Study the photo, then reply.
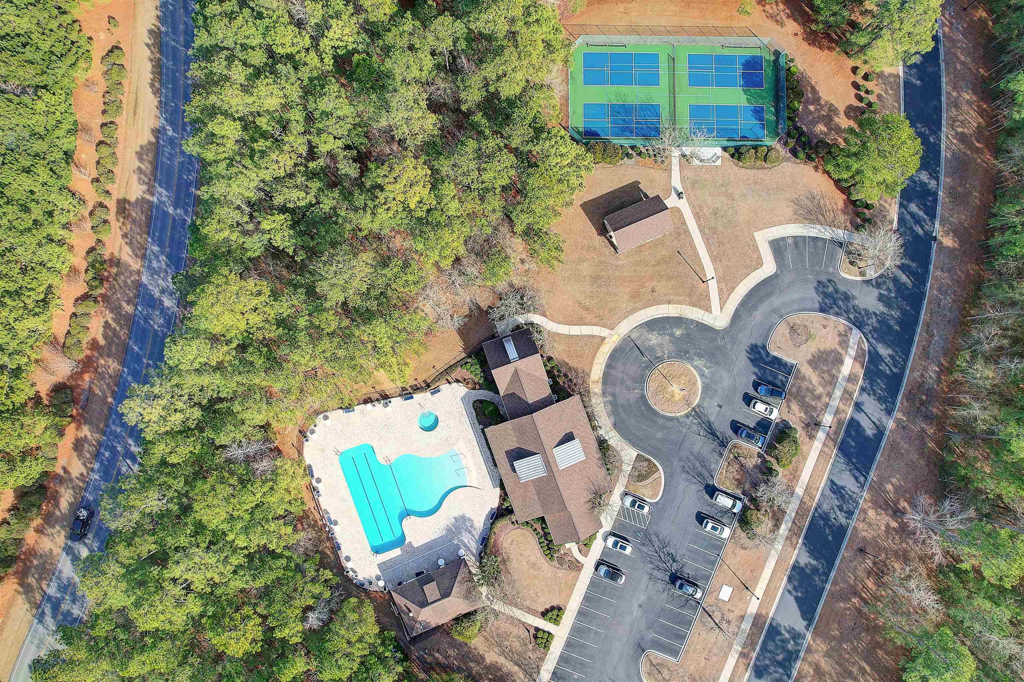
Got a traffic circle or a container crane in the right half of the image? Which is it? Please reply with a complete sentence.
The one visible in the right half of the image is a traffic circle.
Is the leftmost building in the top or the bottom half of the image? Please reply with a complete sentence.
The leftmost building is in the bottom half of the image.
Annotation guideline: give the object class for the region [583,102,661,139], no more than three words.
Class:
sports court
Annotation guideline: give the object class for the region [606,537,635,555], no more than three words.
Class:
car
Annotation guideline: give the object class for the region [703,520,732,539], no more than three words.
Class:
car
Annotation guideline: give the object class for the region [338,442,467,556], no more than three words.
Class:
swimming pool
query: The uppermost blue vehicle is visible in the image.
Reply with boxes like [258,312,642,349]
[759,385,788,402]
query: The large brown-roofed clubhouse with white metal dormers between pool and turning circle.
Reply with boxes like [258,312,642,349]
[482,326,614,551]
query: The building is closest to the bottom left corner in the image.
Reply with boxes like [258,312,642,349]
[389,560,486,638]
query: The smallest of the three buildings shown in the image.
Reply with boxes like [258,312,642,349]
[604,194,673,254]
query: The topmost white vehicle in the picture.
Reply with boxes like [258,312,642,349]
[751,400,780,418]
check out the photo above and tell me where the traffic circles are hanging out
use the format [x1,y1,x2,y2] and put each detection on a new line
[645,360,701,416]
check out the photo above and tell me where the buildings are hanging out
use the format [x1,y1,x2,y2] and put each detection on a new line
[482,326,614,551]
[389,560,486,638]
[604,194,673,254]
